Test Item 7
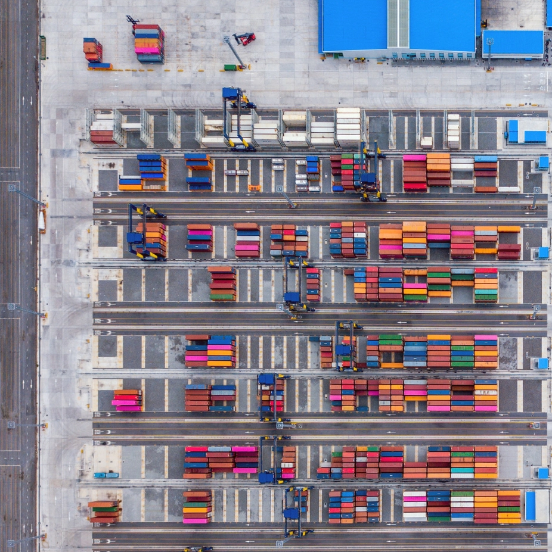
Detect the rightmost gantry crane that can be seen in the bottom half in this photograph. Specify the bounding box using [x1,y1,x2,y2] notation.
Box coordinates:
[334,320,363,373]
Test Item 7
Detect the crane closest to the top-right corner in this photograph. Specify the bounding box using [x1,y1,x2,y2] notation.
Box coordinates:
[360,141,387,201]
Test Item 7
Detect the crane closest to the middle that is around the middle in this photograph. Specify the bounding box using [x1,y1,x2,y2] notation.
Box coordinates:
[282,256,315,311]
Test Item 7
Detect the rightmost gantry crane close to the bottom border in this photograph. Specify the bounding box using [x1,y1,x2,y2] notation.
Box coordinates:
[281,485,313,537]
